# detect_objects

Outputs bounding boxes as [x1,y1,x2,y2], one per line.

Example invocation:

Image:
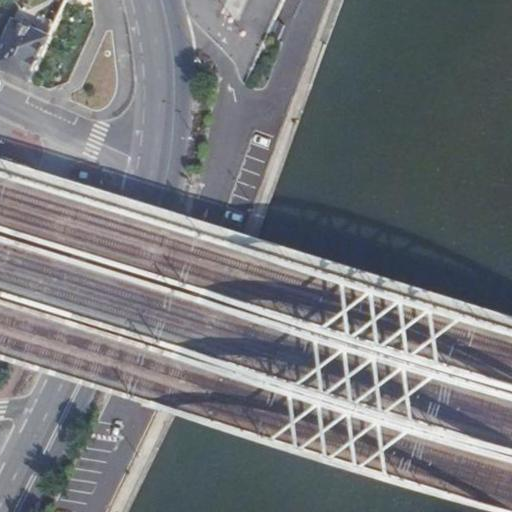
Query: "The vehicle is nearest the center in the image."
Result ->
[224,209,244,221]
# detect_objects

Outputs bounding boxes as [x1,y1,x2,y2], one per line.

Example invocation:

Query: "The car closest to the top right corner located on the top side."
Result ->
[252,134,272,148]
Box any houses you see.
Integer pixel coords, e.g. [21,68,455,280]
[0,8,50,62]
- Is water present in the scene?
Yes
